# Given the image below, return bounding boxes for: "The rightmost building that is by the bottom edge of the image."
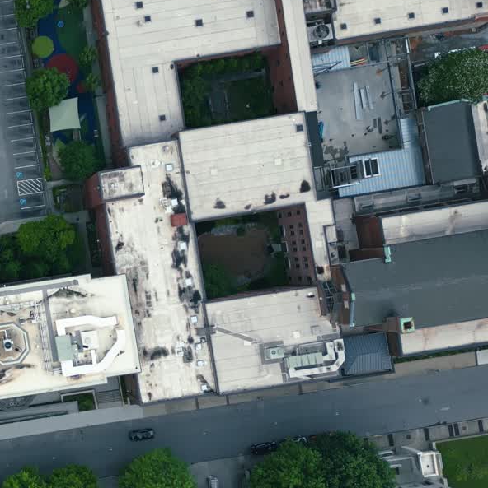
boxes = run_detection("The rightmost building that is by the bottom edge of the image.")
[406,445,439,476]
